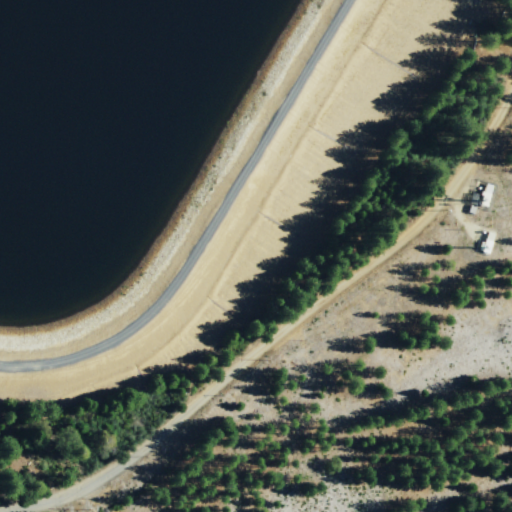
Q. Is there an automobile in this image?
No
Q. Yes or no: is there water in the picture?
Yes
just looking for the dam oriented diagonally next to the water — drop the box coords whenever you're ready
[0,0,462,418]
